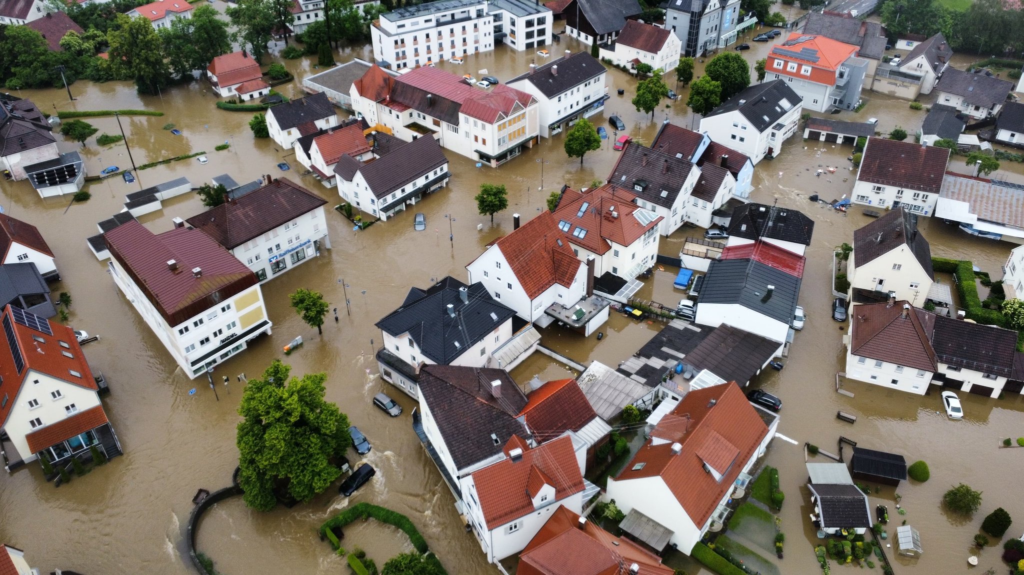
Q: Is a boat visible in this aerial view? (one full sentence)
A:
No, there isn't any boat down there.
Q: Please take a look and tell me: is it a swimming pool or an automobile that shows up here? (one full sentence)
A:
The image shows an automobile.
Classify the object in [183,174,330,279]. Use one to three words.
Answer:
building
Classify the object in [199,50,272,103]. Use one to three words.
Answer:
house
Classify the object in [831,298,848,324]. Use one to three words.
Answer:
car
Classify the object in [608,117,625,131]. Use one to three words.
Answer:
car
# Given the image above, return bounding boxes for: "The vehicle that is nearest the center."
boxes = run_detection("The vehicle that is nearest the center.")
[414,213,426,232]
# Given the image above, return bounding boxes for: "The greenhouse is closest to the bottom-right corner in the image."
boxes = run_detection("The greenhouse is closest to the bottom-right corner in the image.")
[891,523,923,558]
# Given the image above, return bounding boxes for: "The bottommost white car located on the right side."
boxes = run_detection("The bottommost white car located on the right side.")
[939,394,963,422]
